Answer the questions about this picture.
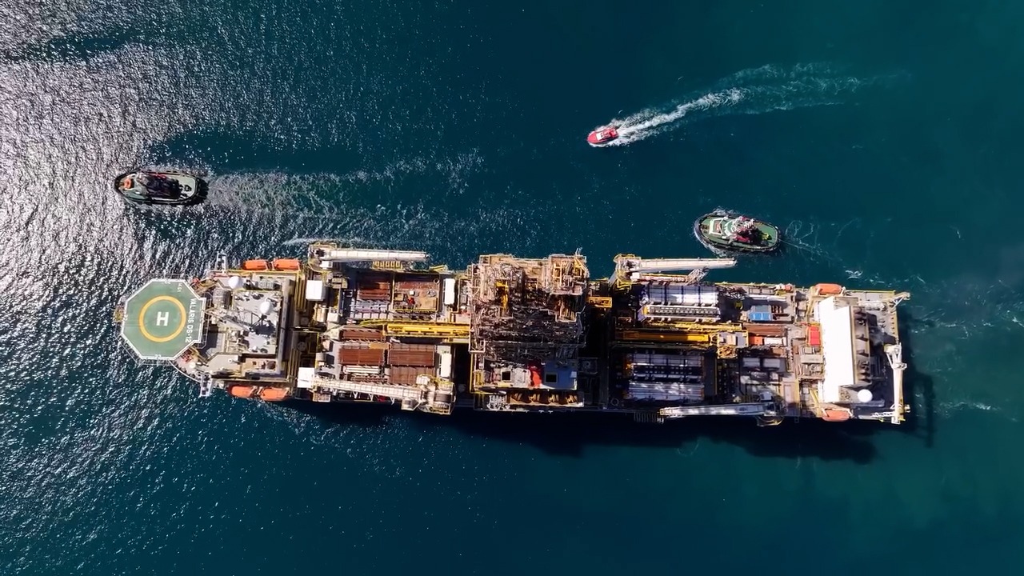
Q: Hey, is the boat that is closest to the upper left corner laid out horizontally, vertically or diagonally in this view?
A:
horizontally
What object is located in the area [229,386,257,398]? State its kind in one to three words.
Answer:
boat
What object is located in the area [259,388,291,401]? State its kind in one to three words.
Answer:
boat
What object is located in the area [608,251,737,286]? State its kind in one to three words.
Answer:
crane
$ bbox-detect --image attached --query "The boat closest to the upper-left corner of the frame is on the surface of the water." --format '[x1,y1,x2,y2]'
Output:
[113,169,207,207]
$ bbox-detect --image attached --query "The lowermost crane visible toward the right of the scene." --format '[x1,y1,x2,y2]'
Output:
[655,391,798,427]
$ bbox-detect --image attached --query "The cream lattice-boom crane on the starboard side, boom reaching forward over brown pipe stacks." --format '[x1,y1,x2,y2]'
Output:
[312,373,457,413]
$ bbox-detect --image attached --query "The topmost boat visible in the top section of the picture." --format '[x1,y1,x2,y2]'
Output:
[589,126,619,144]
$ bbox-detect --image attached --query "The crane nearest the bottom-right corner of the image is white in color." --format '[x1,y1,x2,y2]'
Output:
[872,336,911,423]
